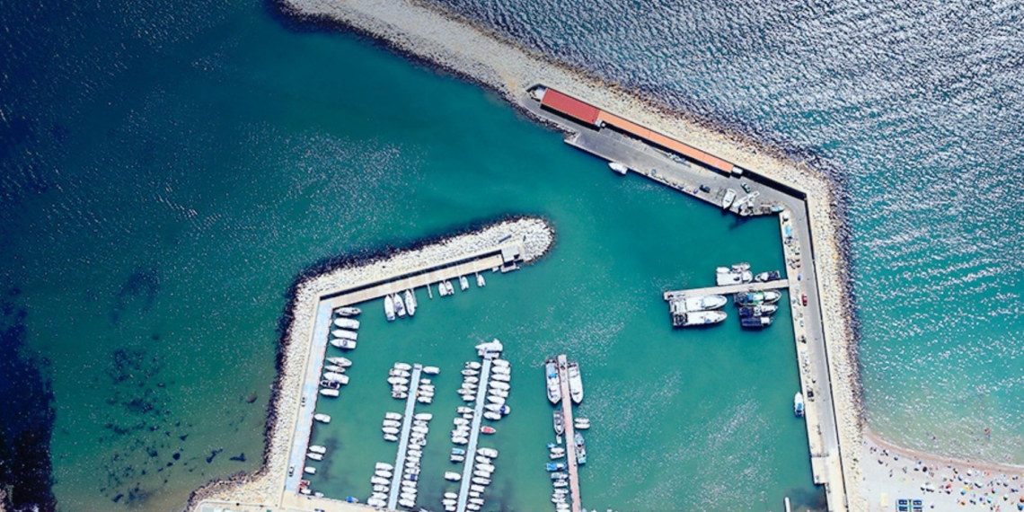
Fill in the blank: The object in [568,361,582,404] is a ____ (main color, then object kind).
white boat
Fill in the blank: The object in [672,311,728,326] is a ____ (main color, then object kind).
white boat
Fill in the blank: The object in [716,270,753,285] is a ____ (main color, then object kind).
white ship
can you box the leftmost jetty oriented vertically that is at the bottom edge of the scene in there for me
[388,369,420,512]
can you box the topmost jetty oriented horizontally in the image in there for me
[664,279,789,300]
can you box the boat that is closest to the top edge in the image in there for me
[609,163,628,175]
